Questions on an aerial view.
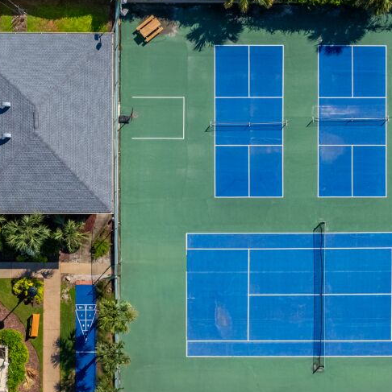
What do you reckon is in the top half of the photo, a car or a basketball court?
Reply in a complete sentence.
There is a basketball court in the top half of the photo.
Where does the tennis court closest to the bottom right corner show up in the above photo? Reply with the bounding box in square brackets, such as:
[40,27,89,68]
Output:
[186,232,392,357]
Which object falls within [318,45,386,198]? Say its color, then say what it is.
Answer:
blue sports court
